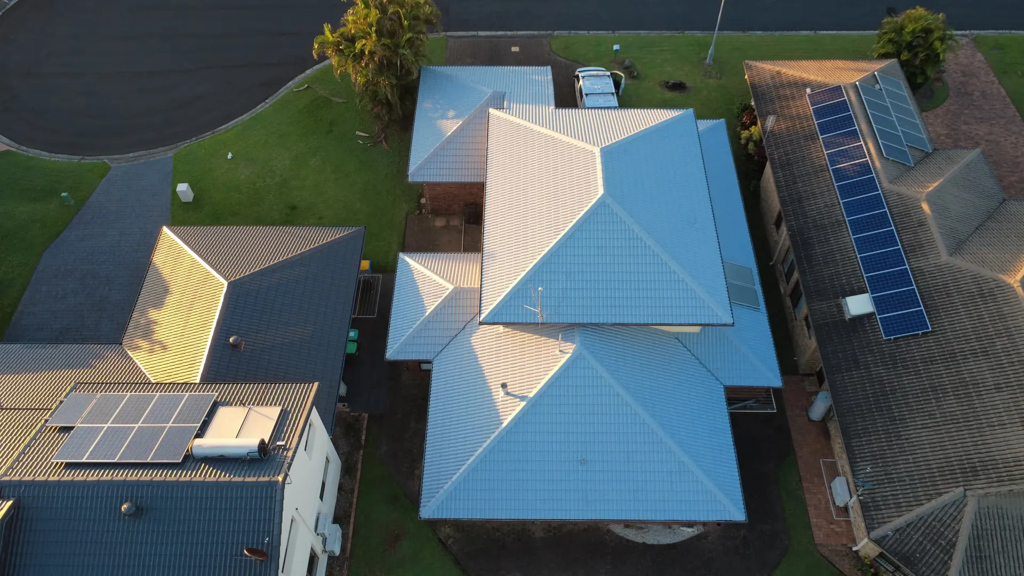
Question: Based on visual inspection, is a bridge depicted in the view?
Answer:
No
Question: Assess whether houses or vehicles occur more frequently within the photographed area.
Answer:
houses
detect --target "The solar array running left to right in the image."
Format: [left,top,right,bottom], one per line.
[36,392,224,461]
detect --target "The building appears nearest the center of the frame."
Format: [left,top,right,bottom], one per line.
[383,64,786,531]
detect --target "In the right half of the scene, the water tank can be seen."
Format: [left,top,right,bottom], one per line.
[801,396,830,428]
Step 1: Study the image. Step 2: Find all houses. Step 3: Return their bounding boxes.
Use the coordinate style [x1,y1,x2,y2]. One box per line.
[383,64,786,531]
[0,224,369,576]
[742,58,1024,576]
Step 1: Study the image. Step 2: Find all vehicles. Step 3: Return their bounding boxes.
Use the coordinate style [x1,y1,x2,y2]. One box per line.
[573,67,623,107]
